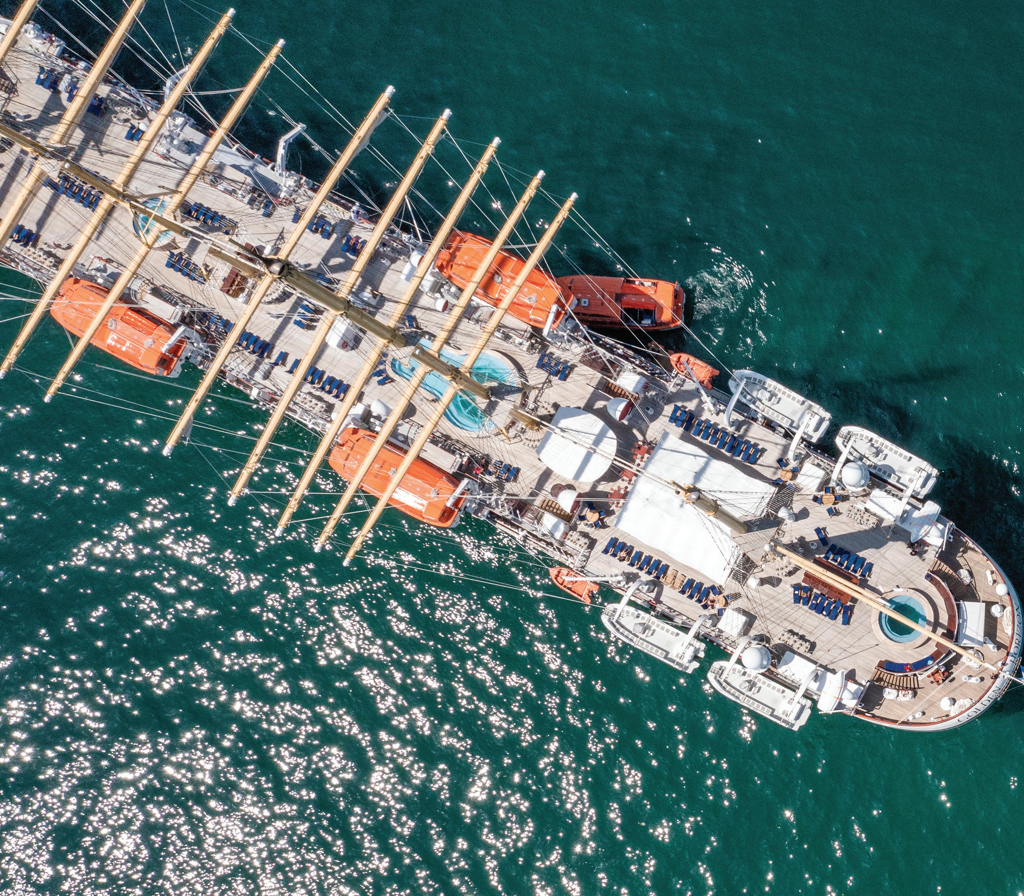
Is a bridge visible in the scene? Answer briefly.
No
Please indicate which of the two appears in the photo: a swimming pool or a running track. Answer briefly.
swimming pool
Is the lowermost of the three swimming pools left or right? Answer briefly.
right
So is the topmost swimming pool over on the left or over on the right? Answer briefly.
left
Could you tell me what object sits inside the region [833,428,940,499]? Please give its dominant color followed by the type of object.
white boat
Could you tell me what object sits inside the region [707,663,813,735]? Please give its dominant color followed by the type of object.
white boat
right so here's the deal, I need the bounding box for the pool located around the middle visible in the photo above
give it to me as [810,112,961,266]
[383,332,522,438]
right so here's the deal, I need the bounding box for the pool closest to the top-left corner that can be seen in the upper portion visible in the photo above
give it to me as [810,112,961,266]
[118,190,184,253]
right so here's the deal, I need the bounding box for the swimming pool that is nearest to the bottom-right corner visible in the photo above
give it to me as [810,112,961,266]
[871,588,934,650]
